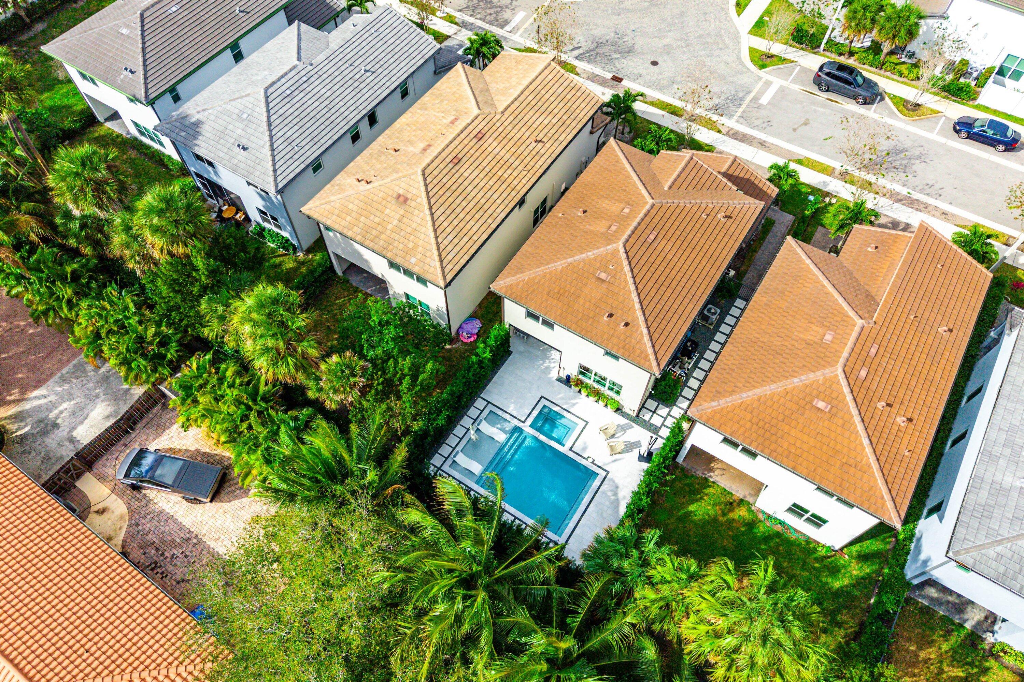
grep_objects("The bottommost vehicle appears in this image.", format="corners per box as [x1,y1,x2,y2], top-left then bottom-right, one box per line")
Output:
[112,446,223,505]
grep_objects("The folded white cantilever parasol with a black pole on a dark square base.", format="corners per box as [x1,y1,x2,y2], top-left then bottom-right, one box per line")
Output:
[635,432,656,468]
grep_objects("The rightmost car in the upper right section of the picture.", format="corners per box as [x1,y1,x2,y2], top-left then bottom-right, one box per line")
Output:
[953,114,1024,151]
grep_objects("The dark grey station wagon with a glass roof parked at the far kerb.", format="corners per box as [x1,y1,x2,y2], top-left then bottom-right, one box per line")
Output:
[814,61,883,105]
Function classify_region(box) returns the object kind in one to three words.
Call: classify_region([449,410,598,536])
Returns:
swimming pool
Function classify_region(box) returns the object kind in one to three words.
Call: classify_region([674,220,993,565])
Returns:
house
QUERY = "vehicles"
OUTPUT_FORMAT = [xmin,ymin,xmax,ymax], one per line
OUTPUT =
[814,61,883,105]
[953,114,1024,151]
[112,446,223,505]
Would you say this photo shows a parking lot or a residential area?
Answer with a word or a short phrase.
residential area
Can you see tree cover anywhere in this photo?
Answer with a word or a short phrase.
Yes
